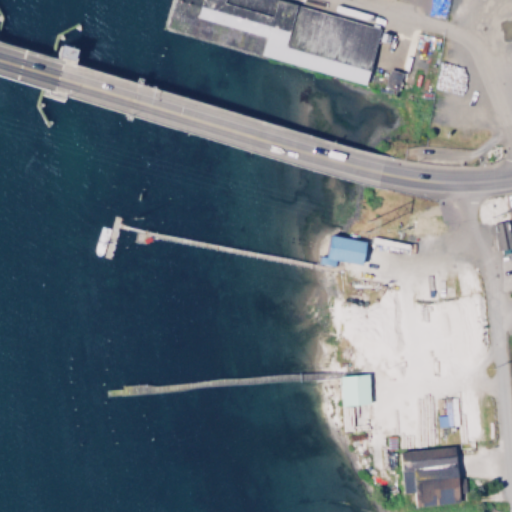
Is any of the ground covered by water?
Yes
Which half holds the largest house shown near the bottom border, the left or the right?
right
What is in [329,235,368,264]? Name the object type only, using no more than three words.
building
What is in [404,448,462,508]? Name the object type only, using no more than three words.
house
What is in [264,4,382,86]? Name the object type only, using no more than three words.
building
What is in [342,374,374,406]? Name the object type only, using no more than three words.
shed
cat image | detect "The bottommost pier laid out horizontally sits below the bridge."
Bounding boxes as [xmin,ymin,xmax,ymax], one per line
[108,374,345,397]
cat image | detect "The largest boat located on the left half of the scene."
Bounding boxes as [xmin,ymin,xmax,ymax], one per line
[98,226,112,256]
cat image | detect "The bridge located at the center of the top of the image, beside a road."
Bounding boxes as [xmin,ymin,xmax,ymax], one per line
[0,42,404,192]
